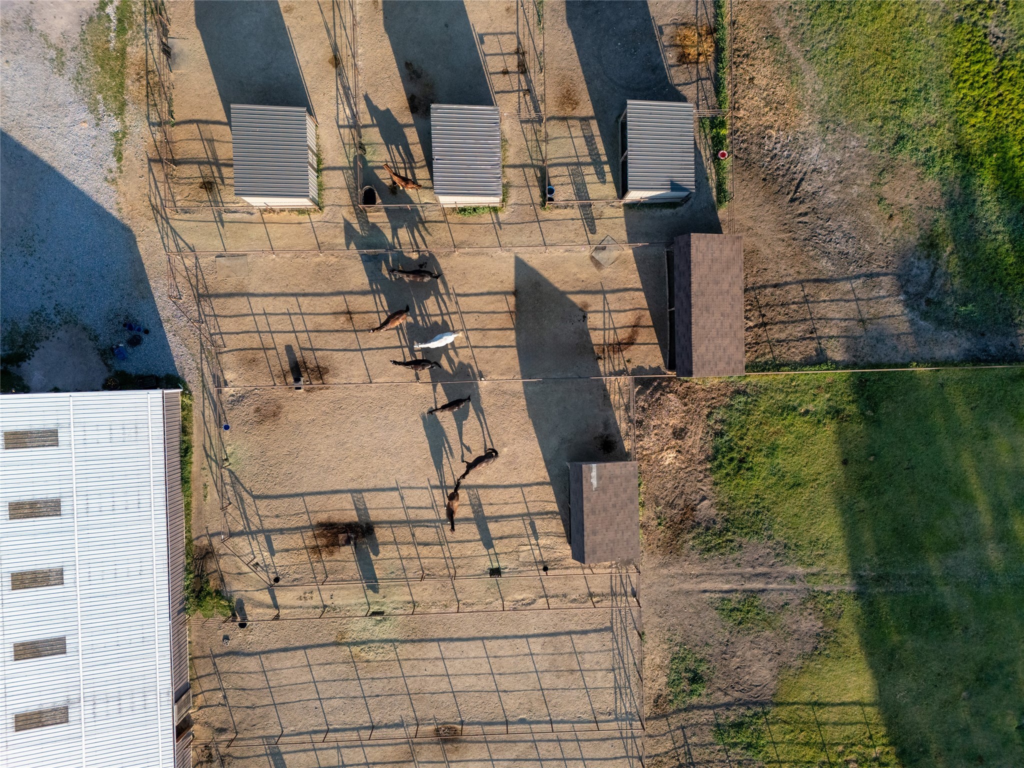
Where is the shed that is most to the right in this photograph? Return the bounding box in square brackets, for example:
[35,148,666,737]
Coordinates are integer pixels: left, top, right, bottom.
[661,233,745,377]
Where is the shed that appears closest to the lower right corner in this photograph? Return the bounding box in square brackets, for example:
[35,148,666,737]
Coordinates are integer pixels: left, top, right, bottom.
[562,457,640,564]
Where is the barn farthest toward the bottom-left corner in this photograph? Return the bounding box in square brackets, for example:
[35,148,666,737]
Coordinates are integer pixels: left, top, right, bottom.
[0,388,194,768]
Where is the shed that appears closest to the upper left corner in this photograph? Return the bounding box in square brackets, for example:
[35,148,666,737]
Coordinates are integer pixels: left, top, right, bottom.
[230,103,318,206]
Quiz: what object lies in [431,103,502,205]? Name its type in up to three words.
shed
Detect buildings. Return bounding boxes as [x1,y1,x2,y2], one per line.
[431,103,502,205]
[661,233,745,377]
[230,103,318,206]
[562,457,640,564]
[620,99,695,200]
[0,388,194,768]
